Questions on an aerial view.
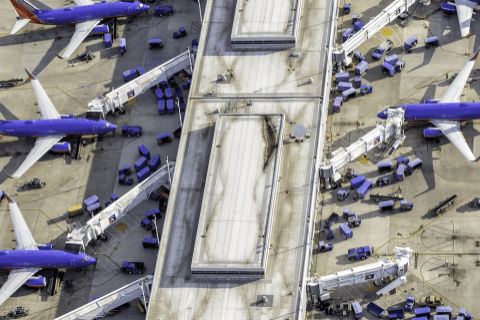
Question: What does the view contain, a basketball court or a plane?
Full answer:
I can see a plane in this picture.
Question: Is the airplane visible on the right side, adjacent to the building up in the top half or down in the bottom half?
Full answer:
The airplane visible on the right side, adjacent to the building is in the top half of the image.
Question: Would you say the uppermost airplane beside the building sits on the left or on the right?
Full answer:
The uppermost airplane beside the building is on the left side of the image.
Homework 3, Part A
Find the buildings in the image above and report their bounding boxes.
[148,0,339,320]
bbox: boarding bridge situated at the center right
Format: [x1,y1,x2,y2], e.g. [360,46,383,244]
[318,113,407,196]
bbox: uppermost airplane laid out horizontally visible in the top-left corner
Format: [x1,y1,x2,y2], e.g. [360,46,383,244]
[9,0,150,61]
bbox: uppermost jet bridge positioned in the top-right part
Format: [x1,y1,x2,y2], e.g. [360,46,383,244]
[330,0,427,72]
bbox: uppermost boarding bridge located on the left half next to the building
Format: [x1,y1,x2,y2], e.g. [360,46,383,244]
[88,46,203,118]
